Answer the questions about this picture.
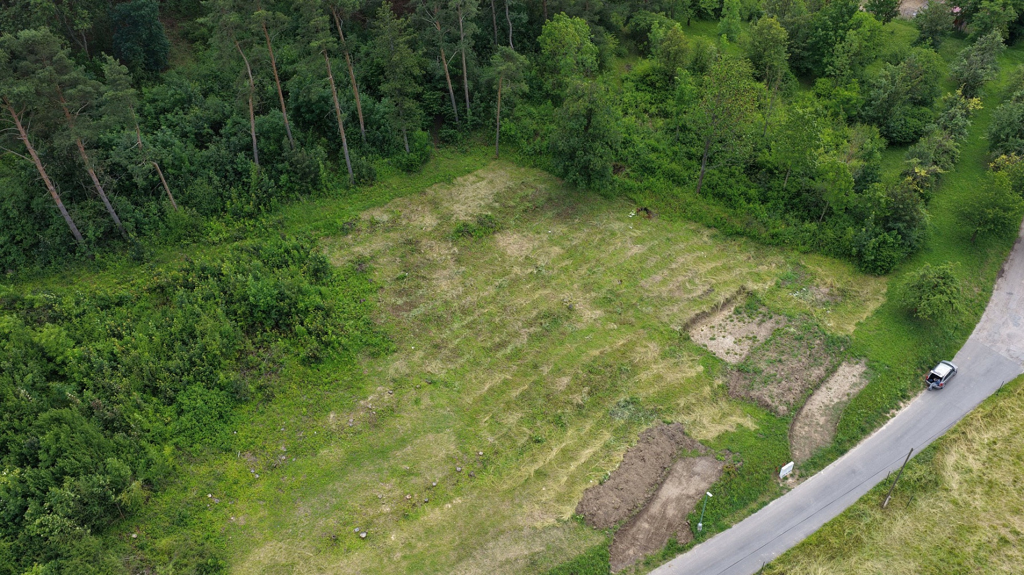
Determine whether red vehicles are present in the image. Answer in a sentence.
No, the scene contains no red vehicle.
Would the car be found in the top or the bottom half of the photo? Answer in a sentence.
You can find the car in the bottom half.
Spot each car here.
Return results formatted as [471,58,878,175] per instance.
[926,363,958,391]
